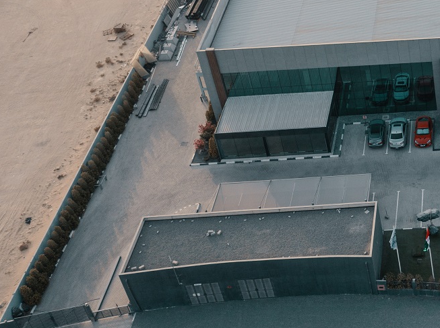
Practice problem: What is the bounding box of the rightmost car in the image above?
[413,114,432,144]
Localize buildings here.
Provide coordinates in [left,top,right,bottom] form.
[120,202,382,313]
[196,0,440,160]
